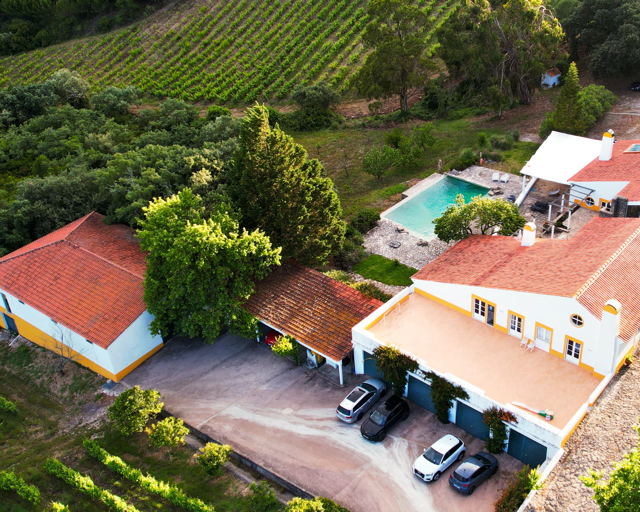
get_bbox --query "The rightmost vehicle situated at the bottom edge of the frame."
[445,444,505,496]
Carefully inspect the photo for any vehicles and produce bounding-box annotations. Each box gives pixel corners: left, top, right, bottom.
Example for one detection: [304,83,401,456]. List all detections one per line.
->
[445,444,505,496]
[409,431,468,484]
[356,393,413,444]
[261,324,281,340]
[333,375,390,426]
